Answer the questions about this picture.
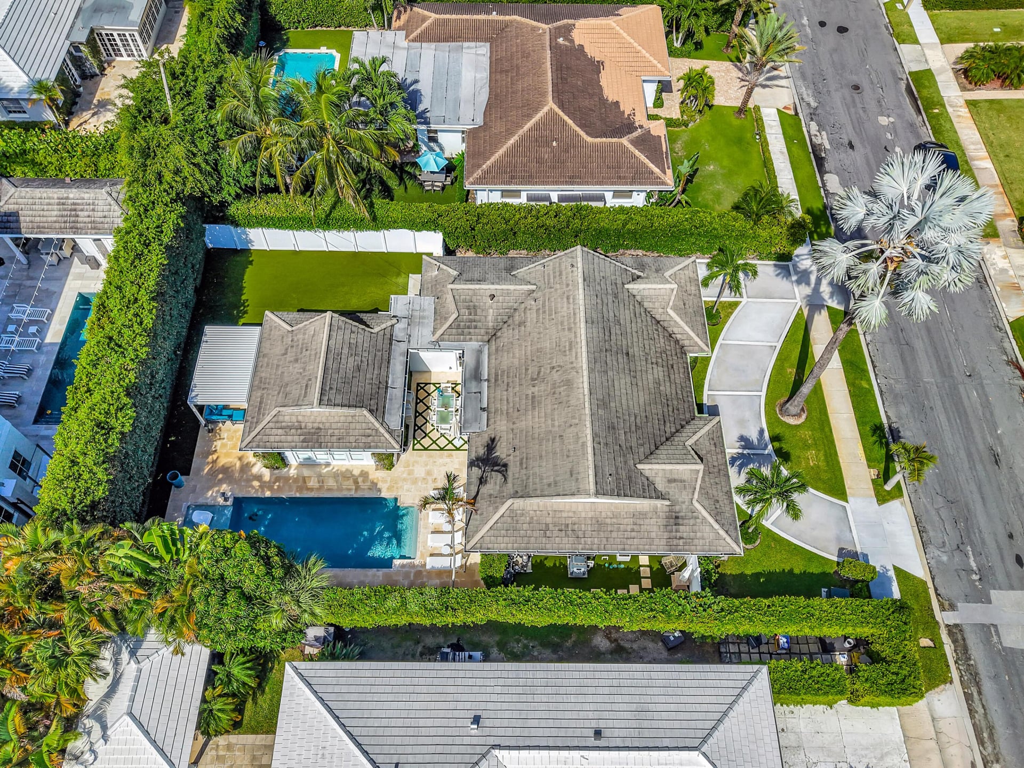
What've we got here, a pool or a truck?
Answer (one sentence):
The one in the frame is a pool.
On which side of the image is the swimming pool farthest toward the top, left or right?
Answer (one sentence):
The swimming pool farthest toward the top is on the left side of the image.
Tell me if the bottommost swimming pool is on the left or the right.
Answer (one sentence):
You can find the bottommost swimming pool on the left side of the picture.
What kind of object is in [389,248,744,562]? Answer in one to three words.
house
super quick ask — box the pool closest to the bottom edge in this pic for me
[176,492,423,572]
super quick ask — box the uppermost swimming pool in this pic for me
[256,46,343,128]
